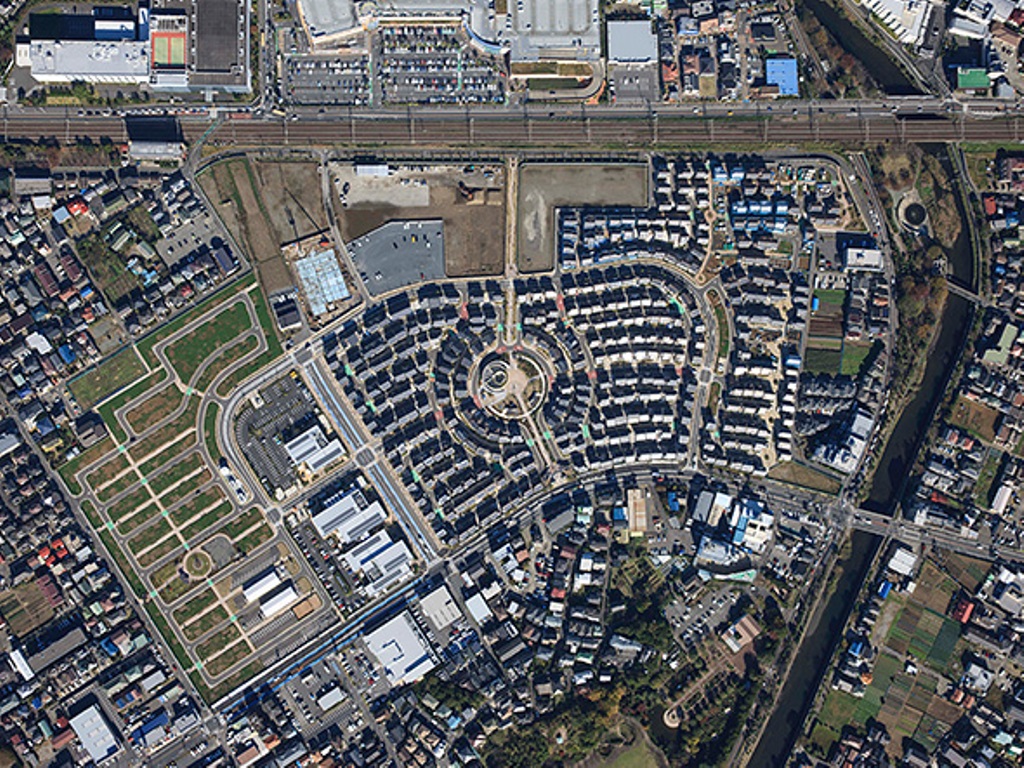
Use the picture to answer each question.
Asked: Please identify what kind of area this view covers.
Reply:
residential area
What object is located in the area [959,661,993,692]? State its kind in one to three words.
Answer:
building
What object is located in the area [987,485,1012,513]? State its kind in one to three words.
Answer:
shed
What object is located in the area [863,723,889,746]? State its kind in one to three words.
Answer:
house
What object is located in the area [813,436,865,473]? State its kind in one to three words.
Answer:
building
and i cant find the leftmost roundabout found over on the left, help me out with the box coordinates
[183,547,213,577]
